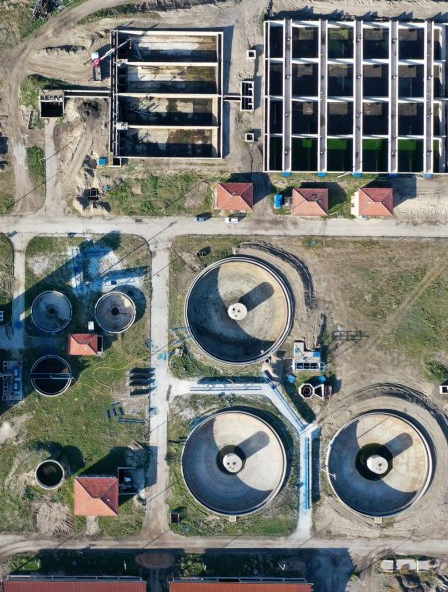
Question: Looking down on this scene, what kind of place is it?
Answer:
industrial area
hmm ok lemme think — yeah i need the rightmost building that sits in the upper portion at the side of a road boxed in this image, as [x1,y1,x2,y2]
[357,189,392,216]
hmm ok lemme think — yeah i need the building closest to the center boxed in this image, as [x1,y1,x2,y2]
[218,183,253,211]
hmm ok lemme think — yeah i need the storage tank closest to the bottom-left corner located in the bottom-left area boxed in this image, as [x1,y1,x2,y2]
[34,459,64,490]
